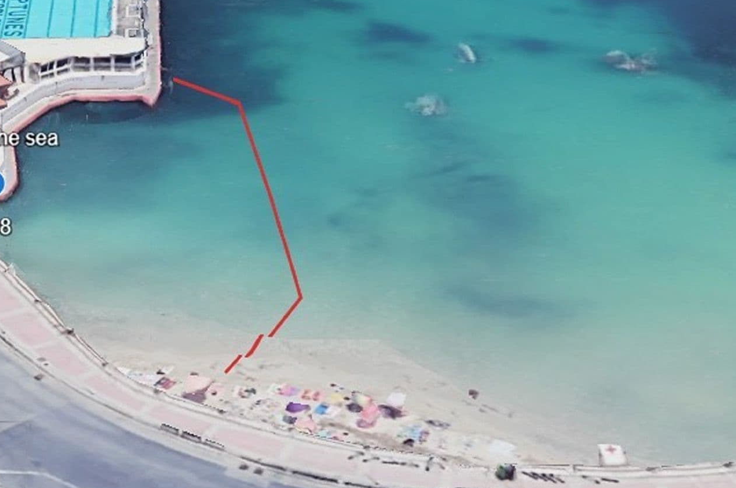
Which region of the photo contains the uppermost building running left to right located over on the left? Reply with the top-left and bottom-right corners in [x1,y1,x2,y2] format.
[0,36,148,86]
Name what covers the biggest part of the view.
water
